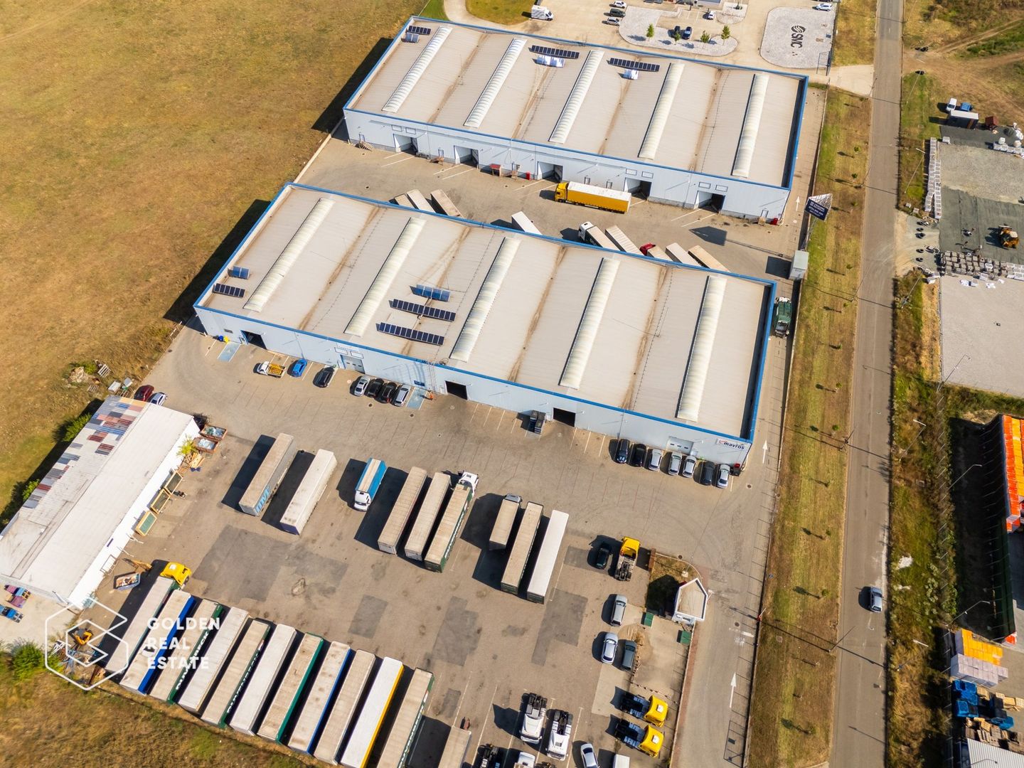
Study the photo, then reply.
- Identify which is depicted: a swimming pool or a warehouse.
warehouse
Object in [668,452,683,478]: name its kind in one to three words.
car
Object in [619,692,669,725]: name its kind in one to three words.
truck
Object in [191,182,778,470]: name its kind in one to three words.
warehouse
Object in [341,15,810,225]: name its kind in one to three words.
warehouse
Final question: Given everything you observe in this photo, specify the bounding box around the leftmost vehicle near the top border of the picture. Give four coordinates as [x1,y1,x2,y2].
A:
[530,2,553,19]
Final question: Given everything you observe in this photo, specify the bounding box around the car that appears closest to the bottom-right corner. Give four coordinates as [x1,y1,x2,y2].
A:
[868,586,885,615]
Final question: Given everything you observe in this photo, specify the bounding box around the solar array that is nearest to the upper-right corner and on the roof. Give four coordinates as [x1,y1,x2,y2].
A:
[608,58,659,74]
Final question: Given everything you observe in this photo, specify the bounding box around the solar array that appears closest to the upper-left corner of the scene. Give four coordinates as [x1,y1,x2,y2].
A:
[213,284,245,300]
